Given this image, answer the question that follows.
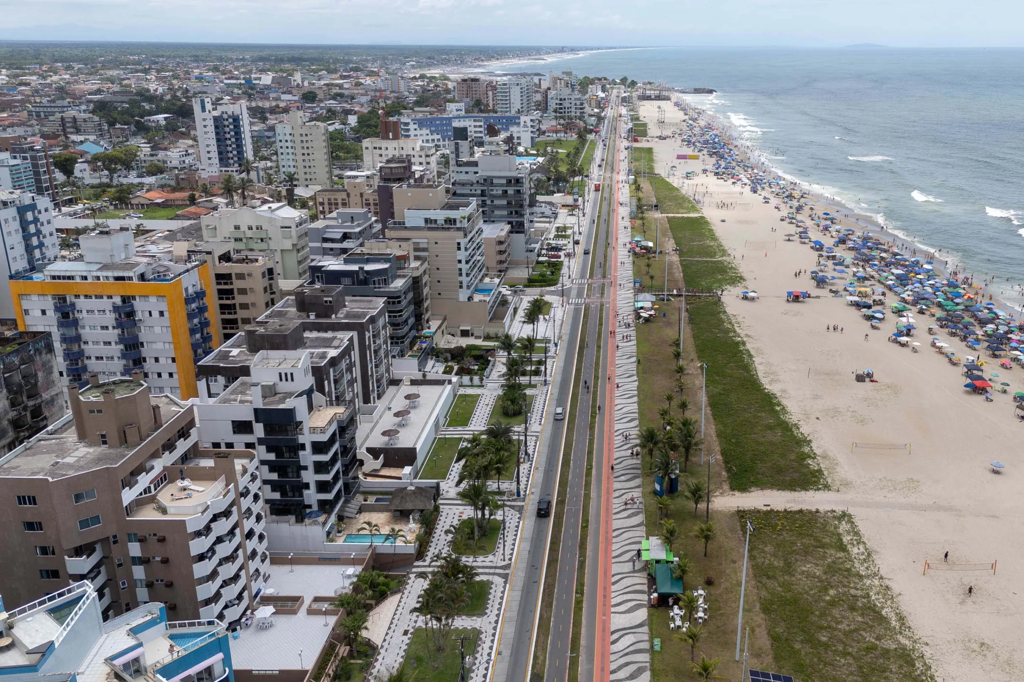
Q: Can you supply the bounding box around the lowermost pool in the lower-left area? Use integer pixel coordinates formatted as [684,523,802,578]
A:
[169,632,218,651]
